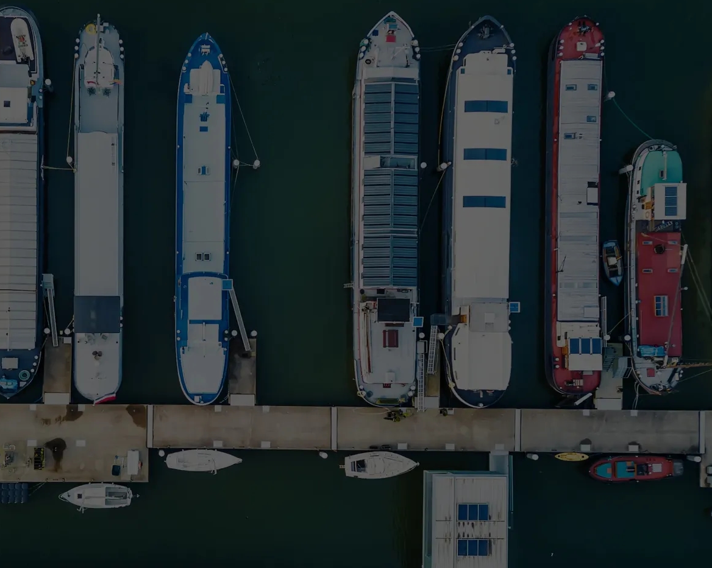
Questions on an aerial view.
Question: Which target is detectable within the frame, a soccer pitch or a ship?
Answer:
ship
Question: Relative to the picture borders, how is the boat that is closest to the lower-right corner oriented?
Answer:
from side to side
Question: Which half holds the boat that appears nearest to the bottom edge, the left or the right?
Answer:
left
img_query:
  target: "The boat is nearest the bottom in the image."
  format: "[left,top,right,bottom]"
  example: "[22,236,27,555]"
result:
[59,482,141,513]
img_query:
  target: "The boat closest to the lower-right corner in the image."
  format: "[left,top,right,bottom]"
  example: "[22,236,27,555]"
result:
[587,454,683,482]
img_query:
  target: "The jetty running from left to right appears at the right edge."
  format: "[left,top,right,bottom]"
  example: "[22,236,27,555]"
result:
[521,409,706,454]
